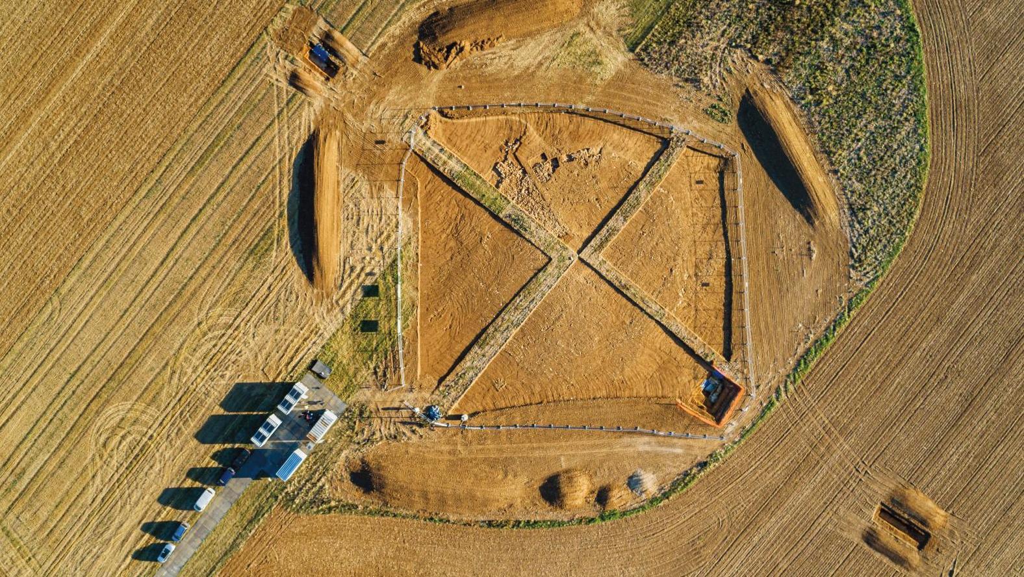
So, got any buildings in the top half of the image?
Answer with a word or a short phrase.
No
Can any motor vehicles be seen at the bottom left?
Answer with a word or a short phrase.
Yes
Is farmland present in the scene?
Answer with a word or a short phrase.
Yes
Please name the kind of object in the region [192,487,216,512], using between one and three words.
vehicle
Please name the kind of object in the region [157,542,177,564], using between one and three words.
car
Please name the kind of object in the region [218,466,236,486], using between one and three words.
car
